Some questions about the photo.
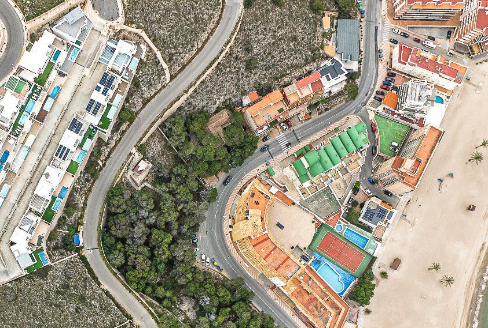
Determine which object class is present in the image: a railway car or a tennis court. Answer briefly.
tennis court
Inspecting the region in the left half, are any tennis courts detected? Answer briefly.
No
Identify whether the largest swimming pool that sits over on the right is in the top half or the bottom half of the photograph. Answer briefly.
bottom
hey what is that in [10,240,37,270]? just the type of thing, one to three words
house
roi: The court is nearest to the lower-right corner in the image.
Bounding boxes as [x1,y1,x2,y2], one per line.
[308,223,375,277]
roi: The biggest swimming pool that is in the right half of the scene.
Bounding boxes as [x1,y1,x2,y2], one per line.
[314,260,346,294]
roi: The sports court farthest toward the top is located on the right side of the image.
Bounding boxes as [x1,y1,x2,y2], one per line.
[299,186,343,219]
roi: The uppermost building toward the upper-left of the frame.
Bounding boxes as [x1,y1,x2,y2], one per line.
[51,5,92,49]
